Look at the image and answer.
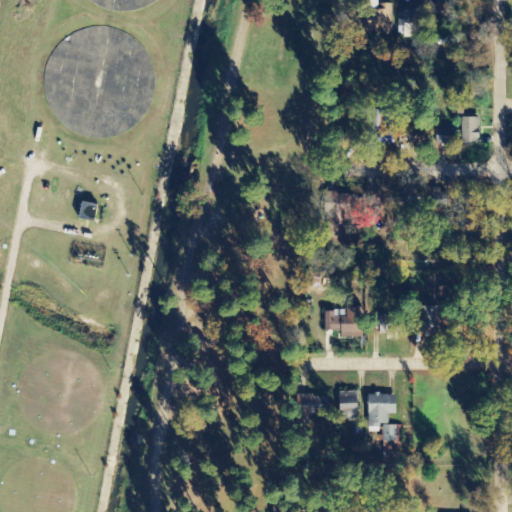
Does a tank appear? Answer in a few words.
No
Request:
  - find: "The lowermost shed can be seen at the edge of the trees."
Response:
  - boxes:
[383,424,402,442]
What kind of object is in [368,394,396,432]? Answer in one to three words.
house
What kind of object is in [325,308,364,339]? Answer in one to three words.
house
